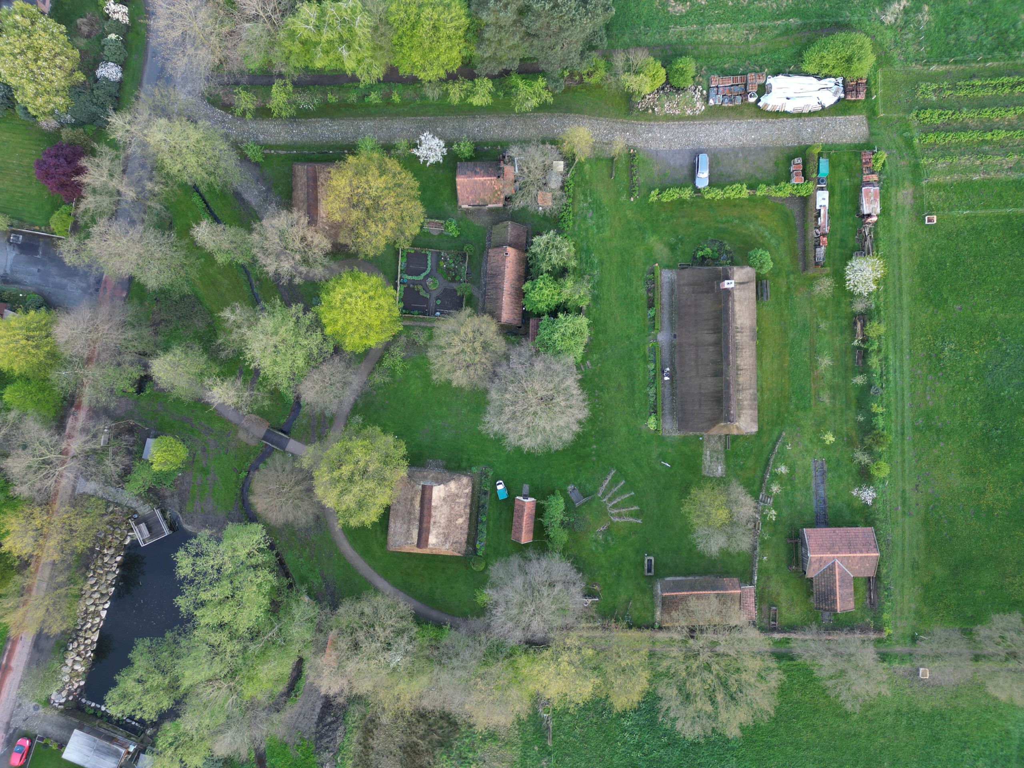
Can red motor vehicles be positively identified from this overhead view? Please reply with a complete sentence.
Yes, there's a red motor vehicle here.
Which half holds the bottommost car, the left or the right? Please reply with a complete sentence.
It is on the left.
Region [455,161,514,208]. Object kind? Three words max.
house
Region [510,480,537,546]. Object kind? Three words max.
shed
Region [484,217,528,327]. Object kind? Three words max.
barn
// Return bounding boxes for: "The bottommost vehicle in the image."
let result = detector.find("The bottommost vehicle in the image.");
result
[8,732,35,768]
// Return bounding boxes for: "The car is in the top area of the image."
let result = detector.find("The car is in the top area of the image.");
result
[693,152,711,190]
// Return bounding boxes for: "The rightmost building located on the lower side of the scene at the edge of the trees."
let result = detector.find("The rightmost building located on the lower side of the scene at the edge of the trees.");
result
[795,524,882,615]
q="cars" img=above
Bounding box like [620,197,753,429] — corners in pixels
[693,152,711,190]
[8,732,35,768]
